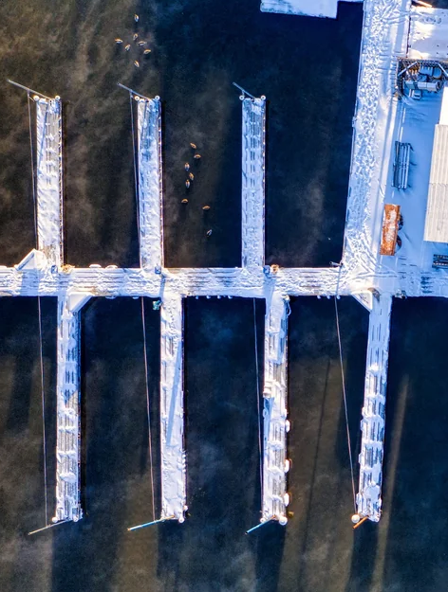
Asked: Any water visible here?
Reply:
Yes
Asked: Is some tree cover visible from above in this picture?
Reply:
No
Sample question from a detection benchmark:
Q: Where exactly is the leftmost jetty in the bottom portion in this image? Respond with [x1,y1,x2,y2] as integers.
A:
[52,296,84,522]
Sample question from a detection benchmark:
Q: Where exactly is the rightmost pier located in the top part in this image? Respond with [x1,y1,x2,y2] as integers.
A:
[238,95,269,268]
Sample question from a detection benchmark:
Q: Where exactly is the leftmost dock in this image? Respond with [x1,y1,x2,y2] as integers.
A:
[33,95,66,266]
